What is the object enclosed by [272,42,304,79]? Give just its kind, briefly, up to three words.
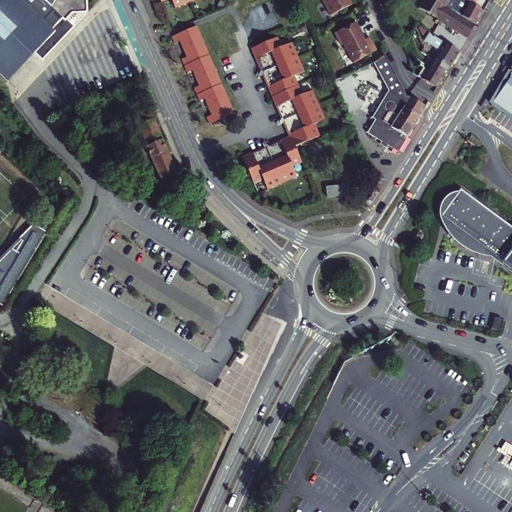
house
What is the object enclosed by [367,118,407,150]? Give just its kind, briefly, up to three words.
building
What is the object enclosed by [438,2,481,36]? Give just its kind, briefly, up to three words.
house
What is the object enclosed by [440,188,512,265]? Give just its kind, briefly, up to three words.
building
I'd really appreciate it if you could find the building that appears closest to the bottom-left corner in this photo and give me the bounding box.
[0,226,46,306]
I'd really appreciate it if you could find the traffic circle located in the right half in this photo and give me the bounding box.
[292,232,395,334]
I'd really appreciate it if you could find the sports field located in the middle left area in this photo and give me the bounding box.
[0,152,42,251]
